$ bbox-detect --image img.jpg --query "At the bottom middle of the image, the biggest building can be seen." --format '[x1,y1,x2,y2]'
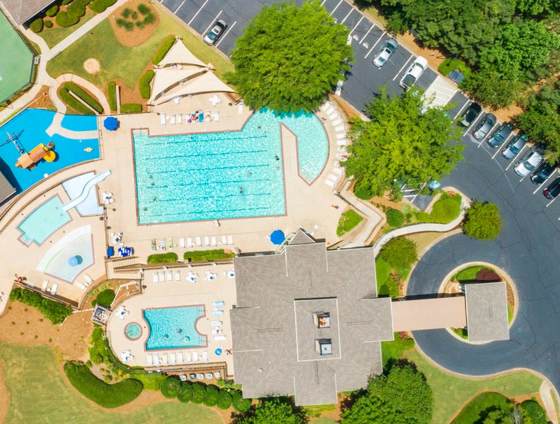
[228,228,396,407]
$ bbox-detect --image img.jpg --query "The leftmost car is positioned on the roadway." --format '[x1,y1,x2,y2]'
[203,18,229,46]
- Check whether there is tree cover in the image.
Yes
